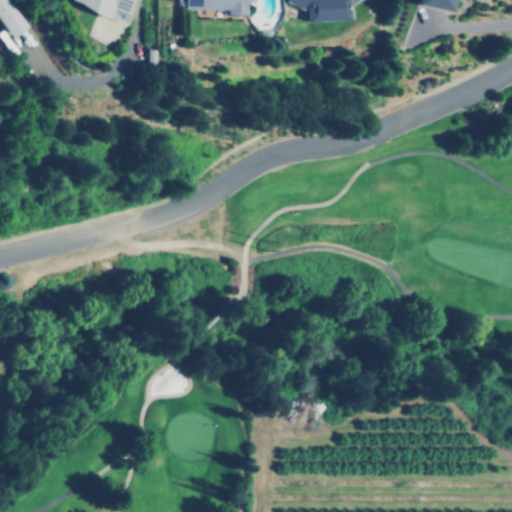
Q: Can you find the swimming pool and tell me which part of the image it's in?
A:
top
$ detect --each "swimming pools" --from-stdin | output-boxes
[254,0,281,36]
